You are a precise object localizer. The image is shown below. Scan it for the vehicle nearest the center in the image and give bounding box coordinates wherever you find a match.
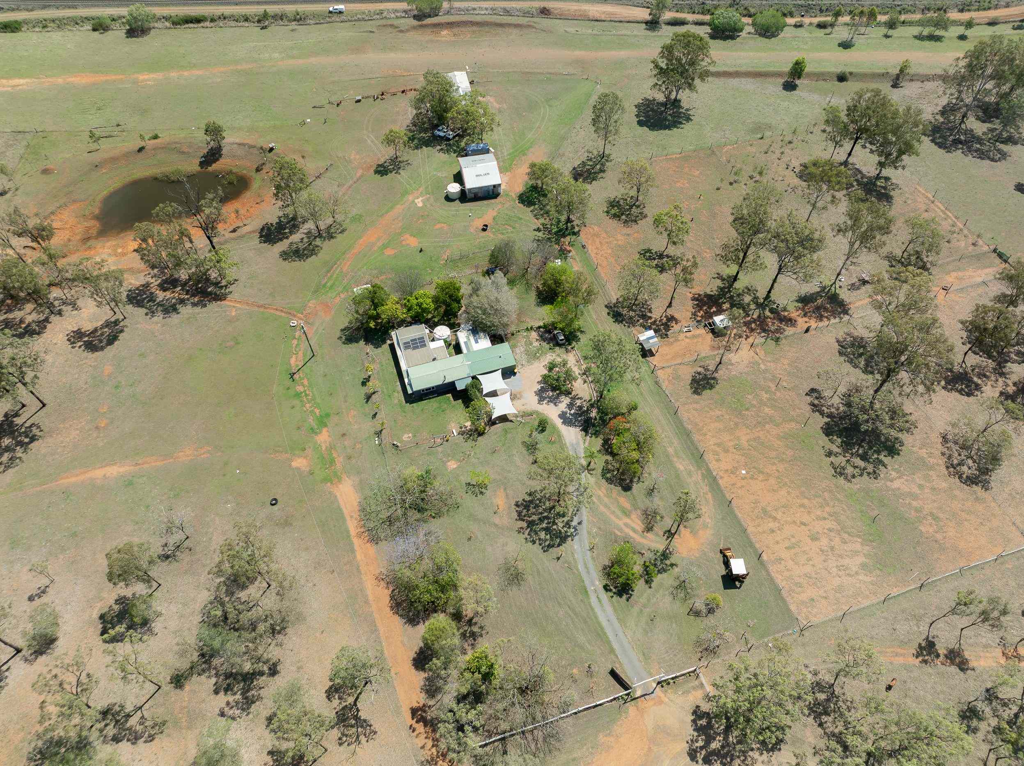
[552,330,568,347]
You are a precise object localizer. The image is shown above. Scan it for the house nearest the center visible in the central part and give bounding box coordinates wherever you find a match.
[392,324,516,398]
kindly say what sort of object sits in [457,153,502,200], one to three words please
shed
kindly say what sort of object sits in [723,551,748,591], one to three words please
work vehicle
